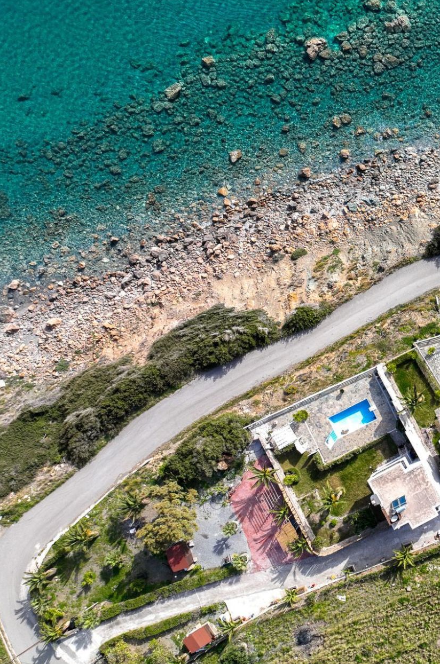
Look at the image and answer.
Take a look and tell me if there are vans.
No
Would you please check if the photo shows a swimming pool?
Yes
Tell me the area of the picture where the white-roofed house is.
bottom right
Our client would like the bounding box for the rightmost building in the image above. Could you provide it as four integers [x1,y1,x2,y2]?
[368,455,440,531]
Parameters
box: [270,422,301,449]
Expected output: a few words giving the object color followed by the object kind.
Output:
white gazebo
